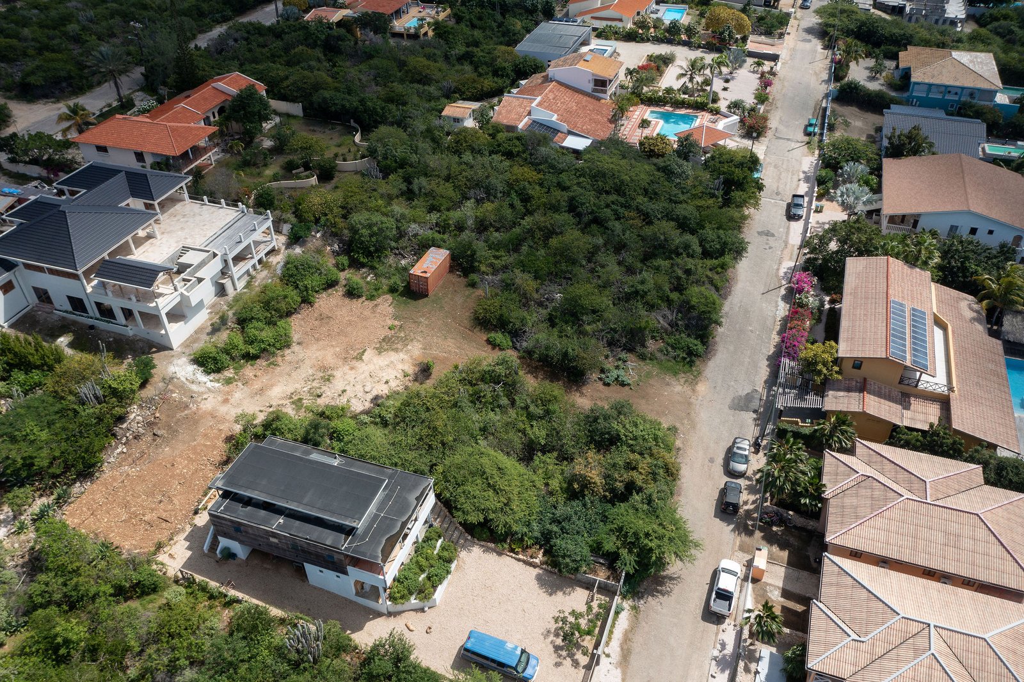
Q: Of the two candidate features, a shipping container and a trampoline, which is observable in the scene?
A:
shipping container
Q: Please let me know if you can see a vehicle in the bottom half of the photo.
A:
Yes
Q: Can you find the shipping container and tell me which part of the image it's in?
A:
center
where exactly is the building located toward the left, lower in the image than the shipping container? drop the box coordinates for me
[198,432,429,615]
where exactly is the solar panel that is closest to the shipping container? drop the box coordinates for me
[526,119,558,140]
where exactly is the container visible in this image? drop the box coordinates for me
[410,248,451,295]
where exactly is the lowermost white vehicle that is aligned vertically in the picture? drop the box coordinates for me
[708,560,743,623]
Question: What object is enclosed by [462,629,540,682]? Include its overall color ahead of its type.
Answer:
blue van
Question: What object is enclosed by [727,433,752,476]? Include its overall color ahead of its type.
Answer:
gray car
